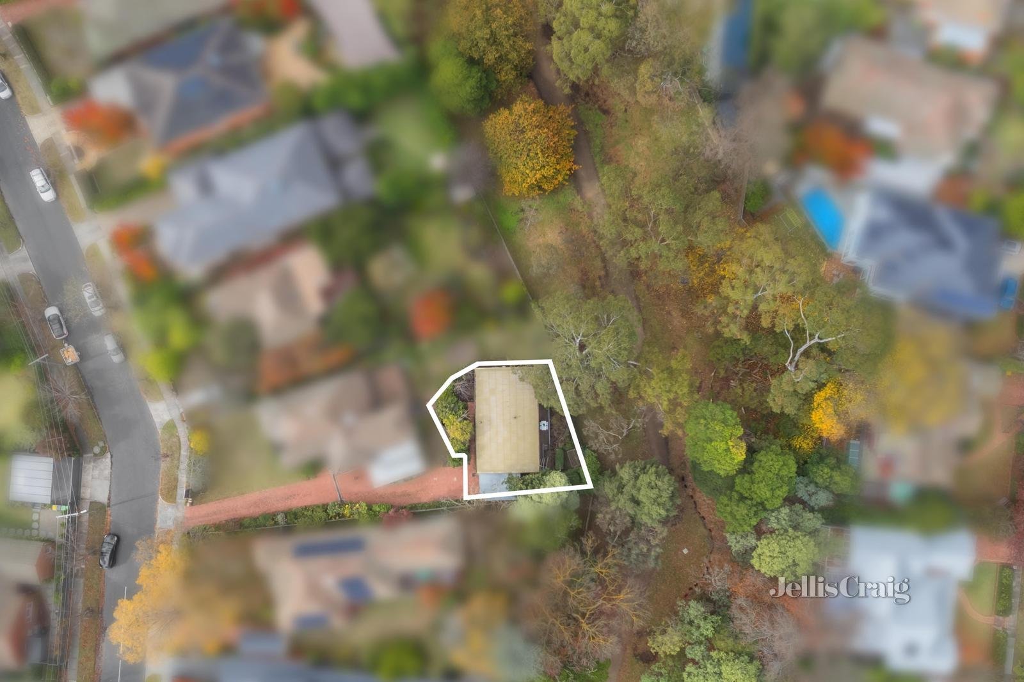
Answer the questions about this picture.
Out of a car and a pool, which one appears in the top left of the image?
car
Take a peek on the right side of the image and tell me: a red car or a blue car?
blue car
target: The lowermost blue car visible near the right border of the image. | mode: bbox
[1000,275,1021,310]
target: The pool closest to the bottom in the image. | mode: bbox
[802,186,844,249]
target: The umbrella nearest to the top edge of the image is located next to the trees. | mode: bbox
[432,152,449,169]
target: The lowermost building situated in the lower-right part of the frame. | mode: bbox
[843,527,976,676]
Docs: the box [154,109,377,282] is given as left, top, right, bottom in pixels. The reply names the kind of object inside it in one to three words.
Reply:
house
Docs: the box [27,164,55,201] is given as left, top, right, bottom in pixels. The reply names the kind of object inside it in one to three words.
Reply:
car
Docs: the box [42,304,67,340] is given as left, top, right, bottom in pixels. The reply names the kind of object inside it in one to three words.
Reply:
car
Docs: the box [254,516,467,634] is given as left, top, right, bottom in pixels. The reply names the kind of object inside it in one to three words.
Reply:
house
